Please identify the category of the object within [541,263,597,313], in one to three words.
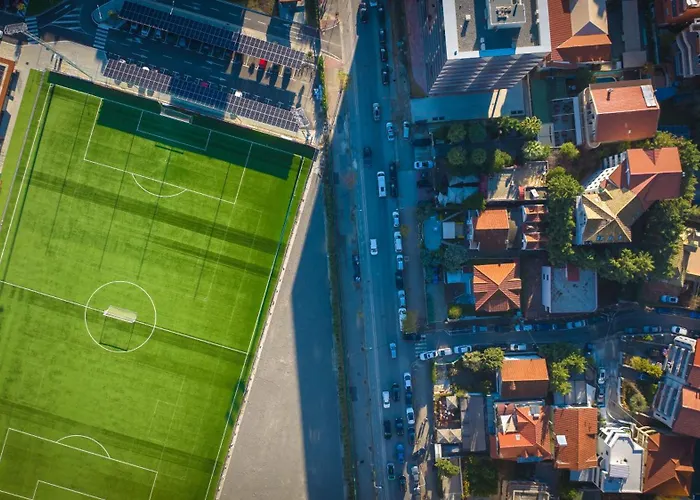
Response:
house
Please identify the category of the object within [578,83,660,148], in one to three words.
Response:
house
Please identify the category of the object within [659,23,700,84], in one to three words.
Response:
building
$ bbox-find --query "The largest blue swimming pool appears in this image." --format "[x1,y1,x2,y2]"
[422,218,442,252]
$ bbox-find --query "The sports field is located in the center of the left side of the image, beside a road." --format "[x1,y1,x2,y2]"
[0,70,314,500]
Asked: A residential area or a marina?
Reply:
residential area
